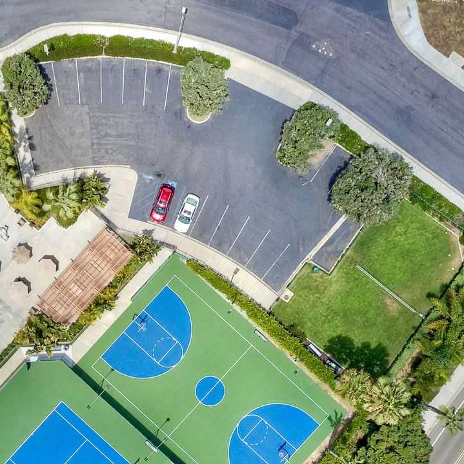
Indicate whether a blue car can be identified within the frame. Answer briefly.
No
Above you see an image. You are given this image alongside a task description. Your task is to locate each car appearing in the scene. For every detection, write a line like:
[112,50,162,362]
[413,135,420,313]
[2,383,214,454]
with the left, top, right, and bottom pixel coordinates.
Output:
[175,193,200,234]
[150,182,175,223]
